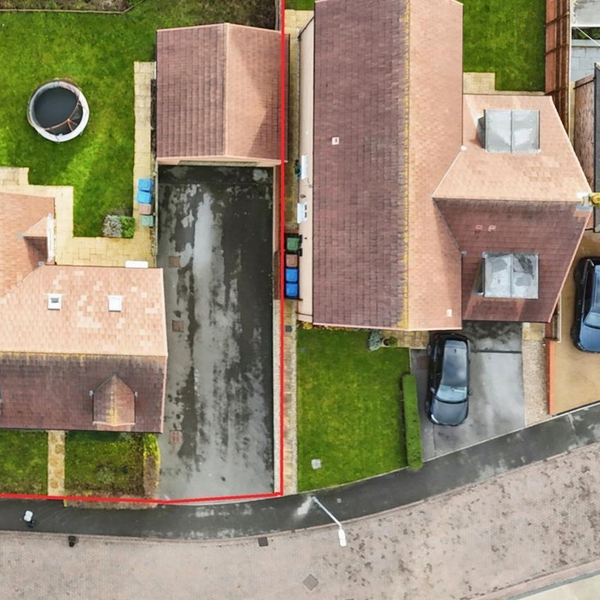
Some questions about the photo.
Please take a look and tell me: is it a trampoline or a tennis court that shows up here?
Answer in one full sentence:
The one in the frame is a trampoline.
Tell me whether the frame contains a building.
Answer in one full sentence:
Yes, there's a building here.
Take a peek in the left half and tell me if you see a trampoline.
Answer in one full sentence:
Yes, looking in the left half, one can make out a trampoline.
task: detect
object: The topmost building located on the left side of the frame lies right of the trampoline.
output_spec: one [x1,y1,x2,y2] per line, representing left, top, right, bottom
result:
[154,15,291,169]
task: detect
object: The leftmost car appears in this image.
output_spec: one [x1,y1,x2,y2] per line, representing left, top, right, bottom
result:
[425,331,476,427]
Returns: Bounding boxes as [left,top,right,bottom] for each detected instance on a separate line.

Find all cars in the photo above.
[425,331,476,427]
[570,257,600,353]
